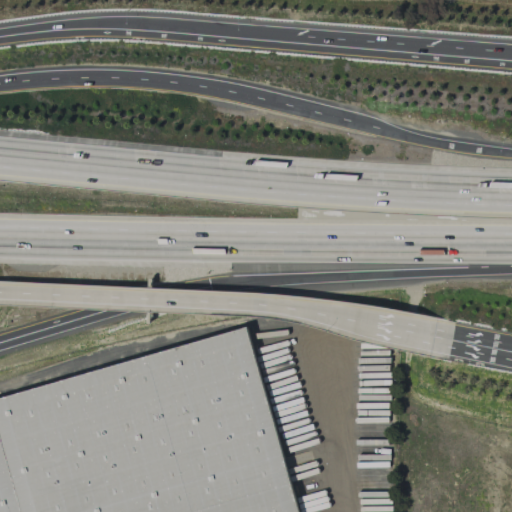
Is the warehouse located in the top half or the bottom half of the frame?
bottom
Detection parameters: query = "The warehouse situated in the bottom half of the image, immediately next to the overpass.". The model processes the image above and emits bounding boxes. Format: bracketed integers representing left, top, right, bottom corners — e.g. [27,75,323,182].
[0,328,298,512]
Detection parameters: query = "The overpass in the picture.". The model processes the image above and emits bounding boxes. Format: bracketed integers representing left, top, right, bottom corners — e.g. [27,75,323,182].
[0,278,454,360]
